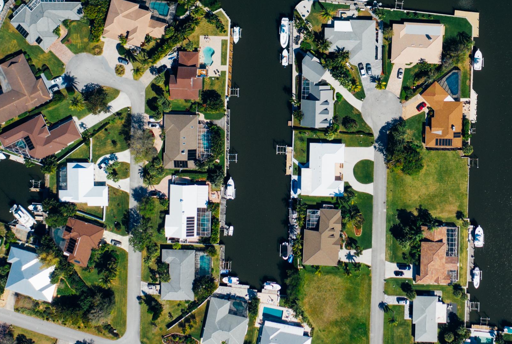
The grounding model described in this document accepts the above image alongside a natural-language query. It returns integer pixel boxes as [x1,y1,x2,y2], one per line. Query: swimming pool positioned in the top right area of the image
[446,72,459,96]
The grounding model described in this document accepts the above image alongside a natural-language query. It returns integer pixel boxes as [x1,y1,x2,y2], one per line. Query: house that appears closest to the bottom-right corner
[413,295,446,344]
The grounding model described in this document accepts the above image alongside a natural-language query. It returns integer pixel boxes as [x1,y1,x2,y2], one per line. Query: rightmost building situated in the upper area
[420,82,463,148]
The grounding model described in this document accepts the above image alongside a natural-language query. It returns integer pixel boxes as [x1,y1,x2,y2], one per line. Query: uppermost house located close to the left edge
[10,2,85,51]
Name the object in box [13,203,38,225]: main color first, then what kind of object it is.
white boat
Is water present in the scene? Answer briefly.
Yes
